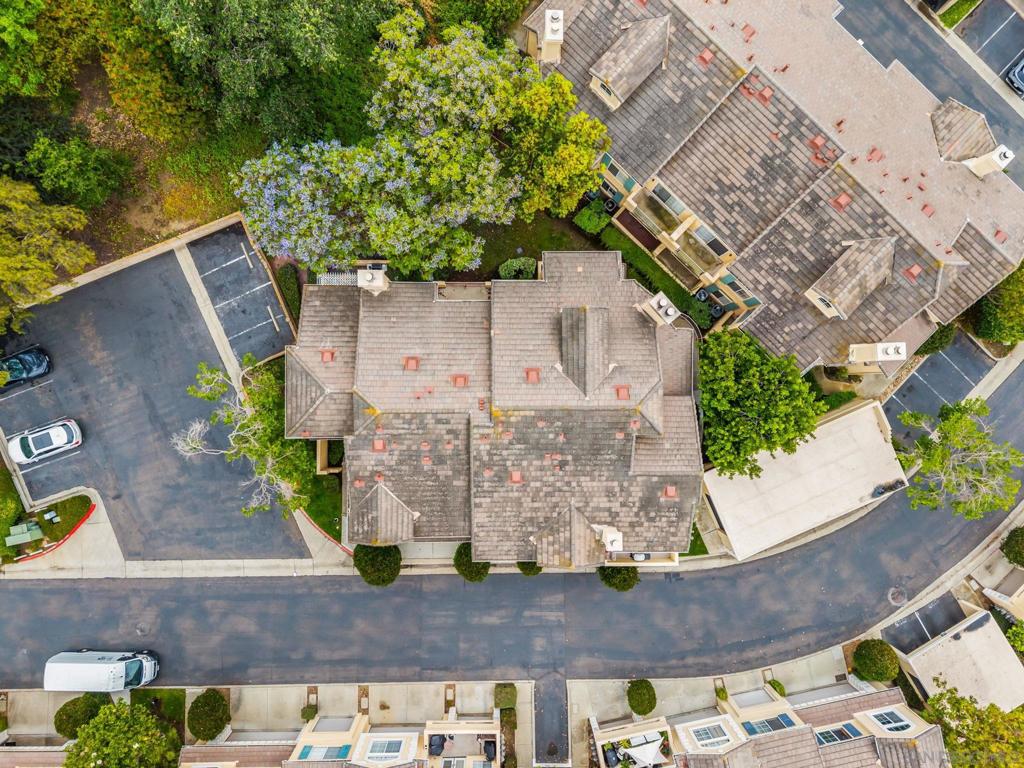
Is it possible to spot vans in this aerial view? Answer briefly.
Yes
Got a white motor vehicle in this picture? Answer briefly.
Yes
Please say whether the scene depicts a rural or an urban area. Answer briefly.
urban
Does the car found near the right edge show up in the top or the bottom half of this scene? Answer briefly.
top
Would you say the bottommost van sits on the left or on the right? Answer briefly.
left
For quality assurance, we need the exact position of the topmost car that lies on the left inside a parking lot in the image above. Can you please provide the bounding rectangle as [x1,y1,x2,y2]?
[0,348,57,392]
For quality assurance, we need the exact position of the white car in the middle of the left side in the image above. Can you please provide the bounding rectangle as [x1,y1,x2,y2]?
[11,419,86,463]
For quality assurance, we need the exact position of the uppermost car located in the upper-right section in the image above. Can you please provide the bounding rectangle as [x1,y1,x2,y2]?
[1003,59,1024,97]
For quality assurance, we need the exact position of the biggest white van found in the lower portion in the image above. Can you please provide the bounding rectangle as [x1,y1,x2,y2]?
[46,648,159,693]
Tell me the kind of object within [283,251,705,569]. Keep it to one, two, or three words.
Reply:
building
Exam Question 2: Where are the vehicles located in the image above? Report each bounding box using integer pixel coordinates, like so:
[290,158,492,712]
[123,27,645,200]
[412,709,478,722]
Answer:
[0,348,57,392]
[11,419,86,463]
[46,648,159,693]
[1003,59,1024,97]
